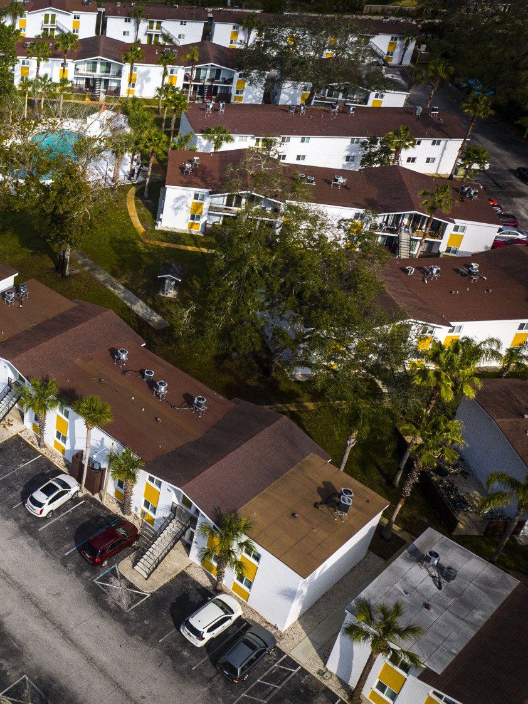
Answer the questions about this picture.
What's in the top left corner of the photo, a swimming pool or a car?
swimming pool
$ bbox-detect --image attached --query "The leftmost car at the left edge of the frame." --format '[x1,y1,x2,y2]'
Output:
[25,479,78,519]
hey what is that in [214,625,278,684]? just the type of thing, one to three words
car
